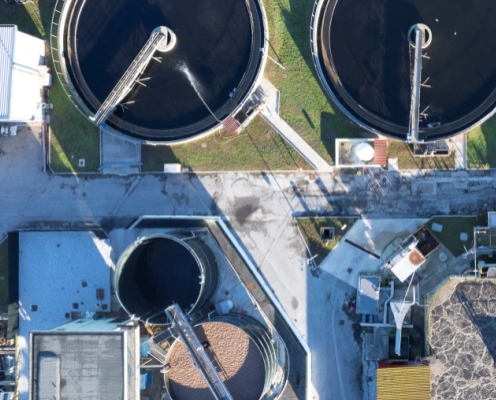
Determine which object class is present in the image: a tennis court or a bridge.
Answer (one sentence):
Visible in the photo is a bridge.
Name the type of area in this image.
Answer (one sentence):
The area seen from above is an industrial area.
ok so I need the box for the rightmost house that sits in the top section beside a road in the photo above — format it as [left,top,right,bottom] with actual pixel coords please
[335,139,388,167]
